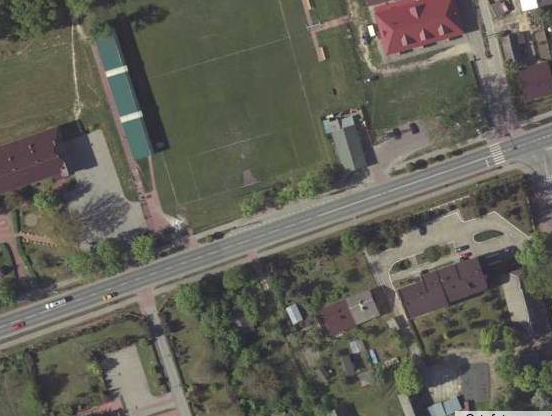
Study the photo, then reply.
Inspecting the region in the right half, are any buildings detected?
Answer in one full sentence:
Yes, a building appears in the right half.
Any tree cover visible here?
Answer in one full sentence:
Yes, some tree cover is visible.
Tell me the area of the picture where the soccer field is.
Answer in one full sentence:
The soccer field appears toward the top of the photo.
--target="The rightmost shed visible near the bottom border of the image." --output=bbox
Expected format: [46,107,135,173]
[427,396,462,416]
